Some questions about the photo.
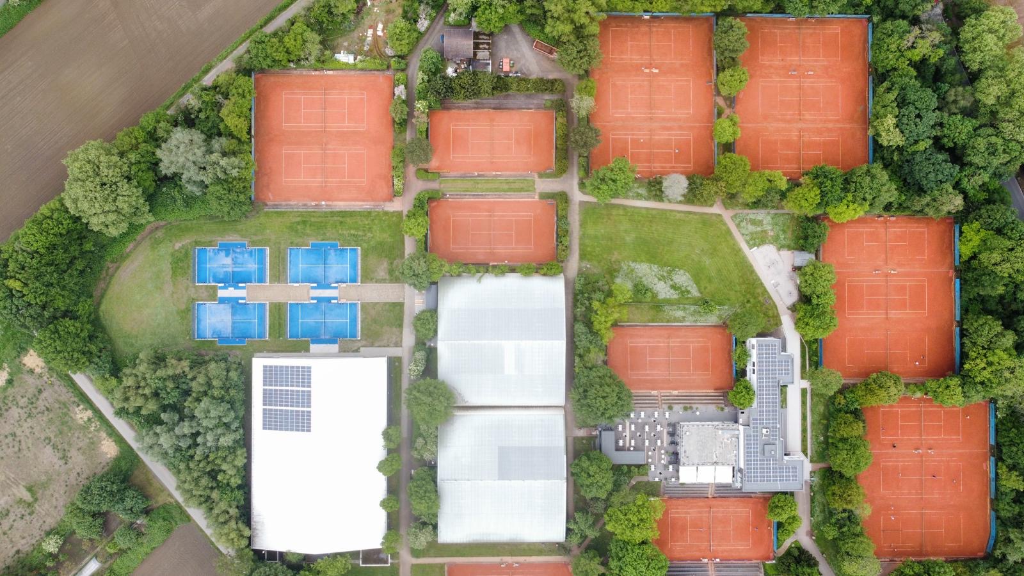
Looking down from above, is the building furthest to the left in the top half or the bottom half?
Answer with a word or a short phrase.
bottom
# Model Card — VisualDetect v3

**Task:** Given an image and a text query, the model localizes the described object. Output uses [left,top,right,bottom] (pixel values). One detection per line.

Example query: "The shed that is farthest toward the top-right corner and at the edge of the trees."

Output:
[789,252,814,267]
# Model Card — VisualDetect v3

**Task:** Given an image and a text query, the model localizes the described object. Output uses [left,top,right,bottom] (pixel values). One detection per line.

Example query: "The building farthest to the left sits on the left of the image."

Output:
[253,356,392,554]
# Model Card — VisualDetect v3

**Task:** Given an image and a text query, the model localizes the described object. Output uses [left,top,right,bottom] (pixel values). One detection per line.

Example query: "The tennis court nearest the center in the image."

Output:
[429,200,556,264]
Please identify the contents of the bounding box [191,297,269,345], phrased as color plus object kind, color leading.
blue sports court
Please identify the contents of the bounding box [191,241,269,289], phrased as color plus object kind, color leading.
blue sports court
